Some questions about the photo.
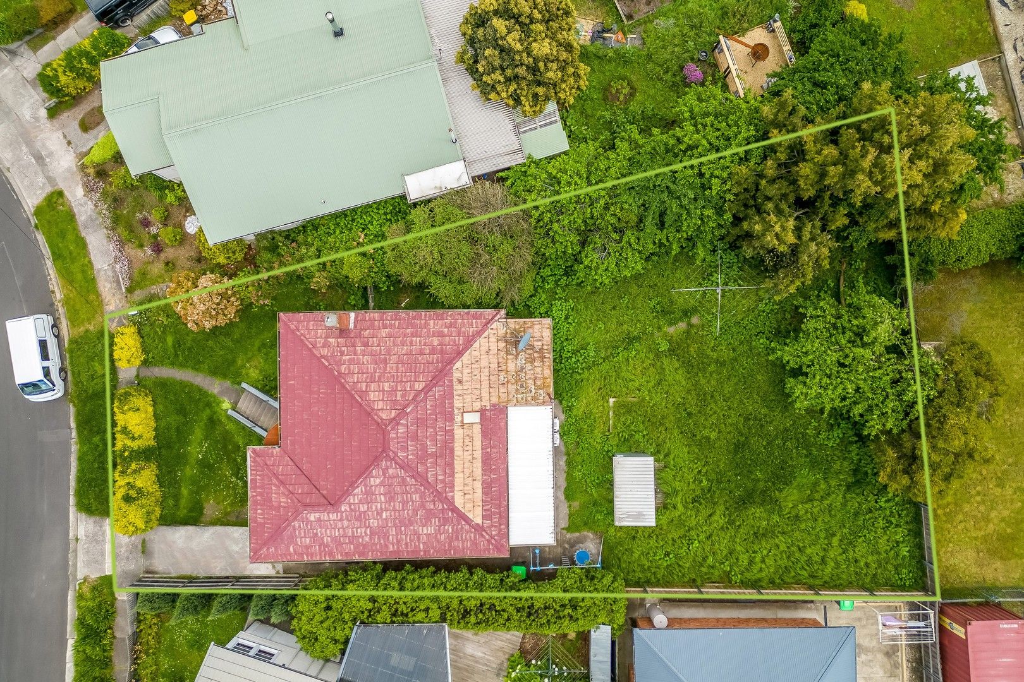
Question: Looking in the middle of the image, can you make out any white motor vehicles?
No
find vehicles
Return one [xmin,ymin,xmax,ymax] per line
[127,16,189,50]
[85,0,162,30]
[5,313,68,404]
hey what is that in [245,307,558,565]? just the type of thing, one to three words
house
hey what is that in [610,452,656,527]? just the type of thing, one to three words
shed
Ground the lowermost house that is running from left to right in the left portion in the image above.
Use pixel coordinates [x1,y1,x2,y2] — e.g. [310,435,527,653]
[195,623,341,682]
